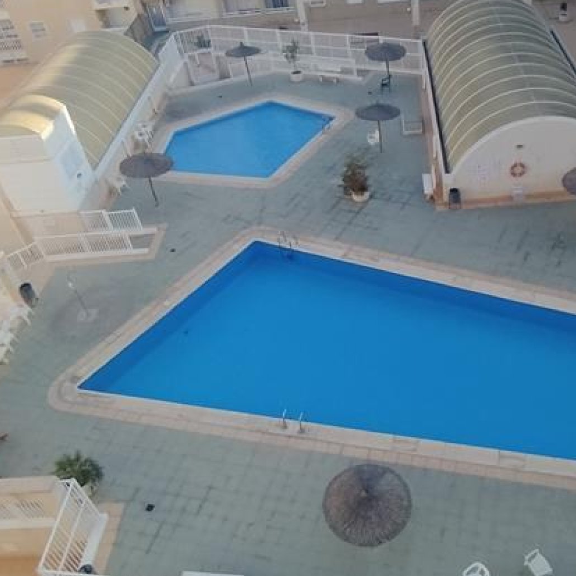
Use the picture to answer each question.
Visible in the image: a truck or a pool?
pool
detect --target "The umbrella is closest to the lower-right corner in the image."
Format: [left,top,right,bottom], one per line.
[322,468,413,558]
